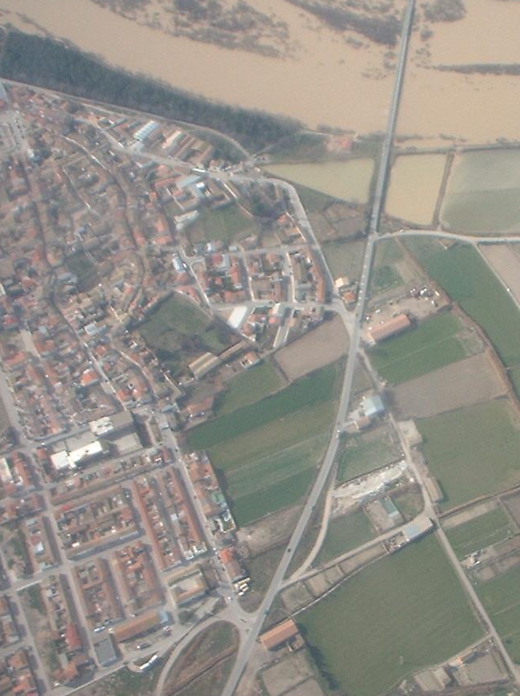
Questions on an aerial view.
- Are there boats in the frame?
No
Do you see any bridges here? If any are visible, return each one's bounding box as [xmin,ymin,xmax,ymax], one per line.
[388,0,415,138]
